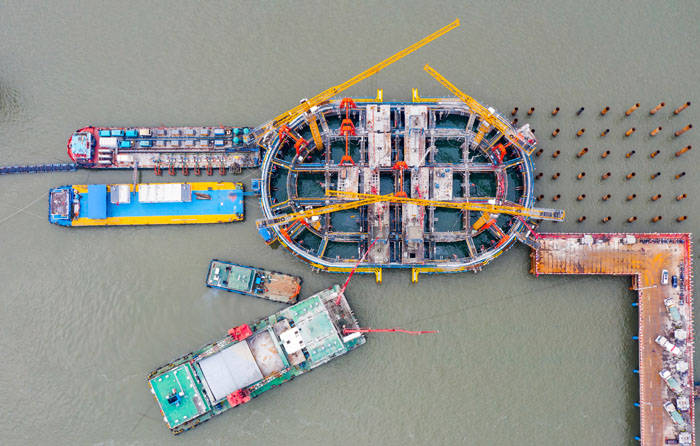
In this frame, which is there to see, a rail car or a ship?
ship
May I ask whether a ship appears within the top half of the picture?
Yes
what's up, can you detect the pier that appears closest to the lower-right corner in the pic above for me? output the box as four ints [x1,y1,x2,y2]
[526,233,700,446]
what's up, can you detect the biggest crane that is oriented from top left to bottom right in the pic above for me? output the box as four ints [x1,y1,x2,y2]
[423,64,534,159]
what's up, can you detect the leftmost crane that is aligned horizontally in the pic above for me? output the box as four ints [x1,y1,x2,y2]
[256,191,396,237]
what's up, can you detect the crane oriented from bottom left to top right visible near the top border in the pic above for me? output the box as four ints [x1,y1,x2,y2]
[243,18,461,159]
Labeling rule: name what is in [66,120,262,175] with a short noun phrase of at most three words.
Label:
ship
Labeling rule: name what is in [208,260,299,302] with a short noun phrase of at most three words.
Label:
boat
